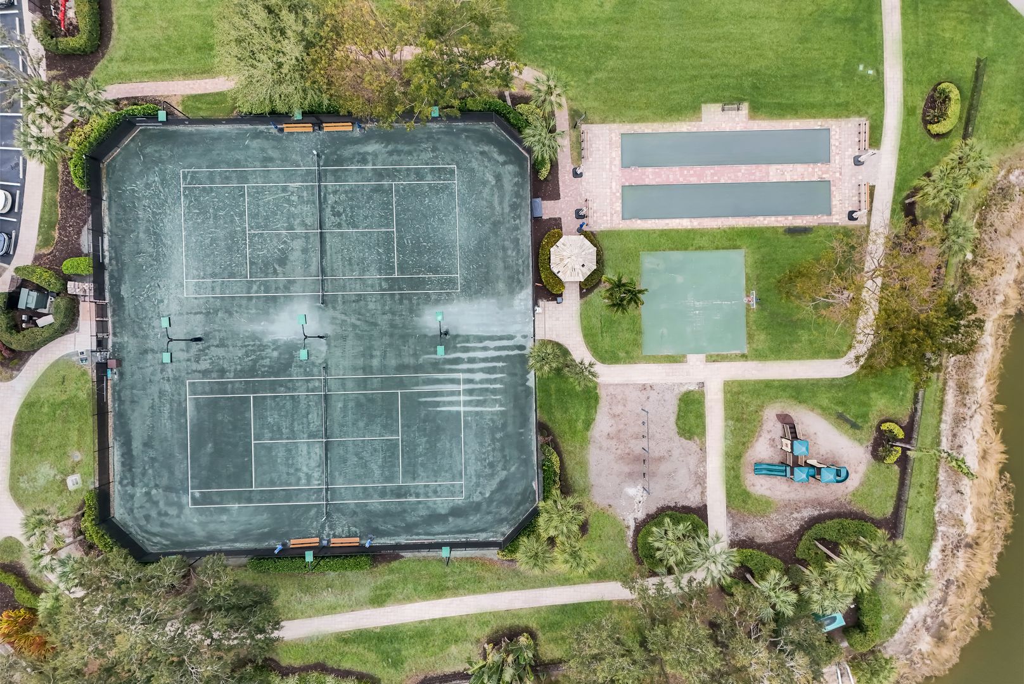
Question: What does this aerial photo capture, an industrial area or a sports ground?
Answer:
sports ground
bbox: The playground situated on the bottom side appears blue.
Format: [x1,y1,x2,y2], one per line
[754,414,851,486]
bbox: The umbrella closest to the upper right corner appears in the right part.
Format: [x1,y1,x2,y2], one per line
[854,151,875,165]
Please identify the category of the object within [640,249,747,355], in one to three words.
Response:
basketball court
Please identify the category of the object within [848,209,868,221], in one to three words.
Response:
umbrella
